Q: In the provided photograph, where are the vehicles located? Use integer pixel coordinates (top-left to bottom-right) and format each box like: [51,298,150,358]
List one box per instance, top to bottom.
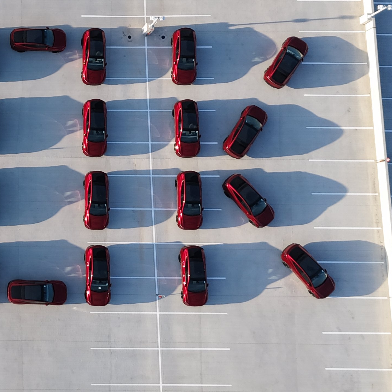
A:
[10,26,67,53]
[81,28,109,85]
[170,28,199,85]
[263,36,310,89]
[82,99,110,157]
[172,99,202,157]
[222,106,269,159]
[83,171,112,230]
[174,171,206,230]
[222,173,276,228]
[281,243,336,299]
[84,246,113,306]
[179,246,210,306]
[8,279,67,307]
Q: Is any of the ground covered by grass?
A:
No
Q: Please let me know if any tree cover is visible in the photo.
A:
No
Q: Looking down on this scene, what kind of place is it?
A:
parking lot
